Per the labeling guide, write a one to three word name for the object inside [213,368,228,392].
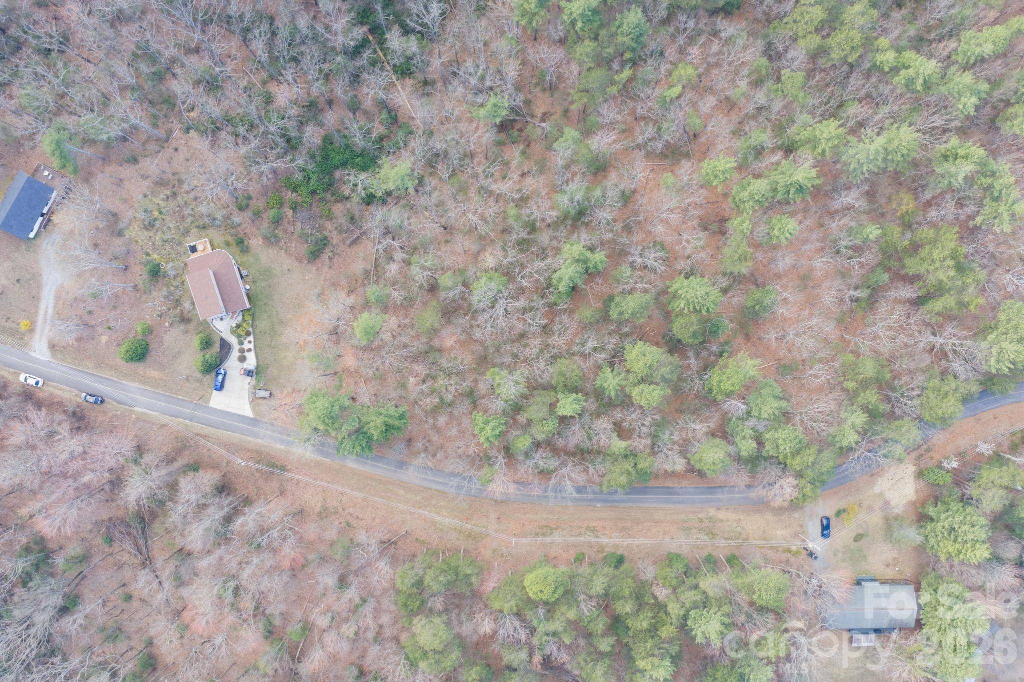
car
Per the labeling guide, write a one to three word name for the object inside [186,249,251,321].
house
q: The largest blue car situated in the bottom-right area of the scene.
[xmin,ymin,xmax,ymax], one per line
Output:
[819,515,832,539]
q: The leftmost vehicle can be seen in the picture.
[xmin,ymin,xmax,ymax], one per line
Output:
[19,373,46,388]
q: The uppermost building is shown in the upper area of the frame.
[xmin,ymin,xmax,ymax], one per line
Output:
[0,169,58,239]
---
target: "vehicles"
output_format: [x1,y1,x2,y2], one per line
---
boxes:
[819,515,832,539]
[82,392,107,405]
[240,368,254,377]
[19,373,46,388]
[213,368,228,392]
